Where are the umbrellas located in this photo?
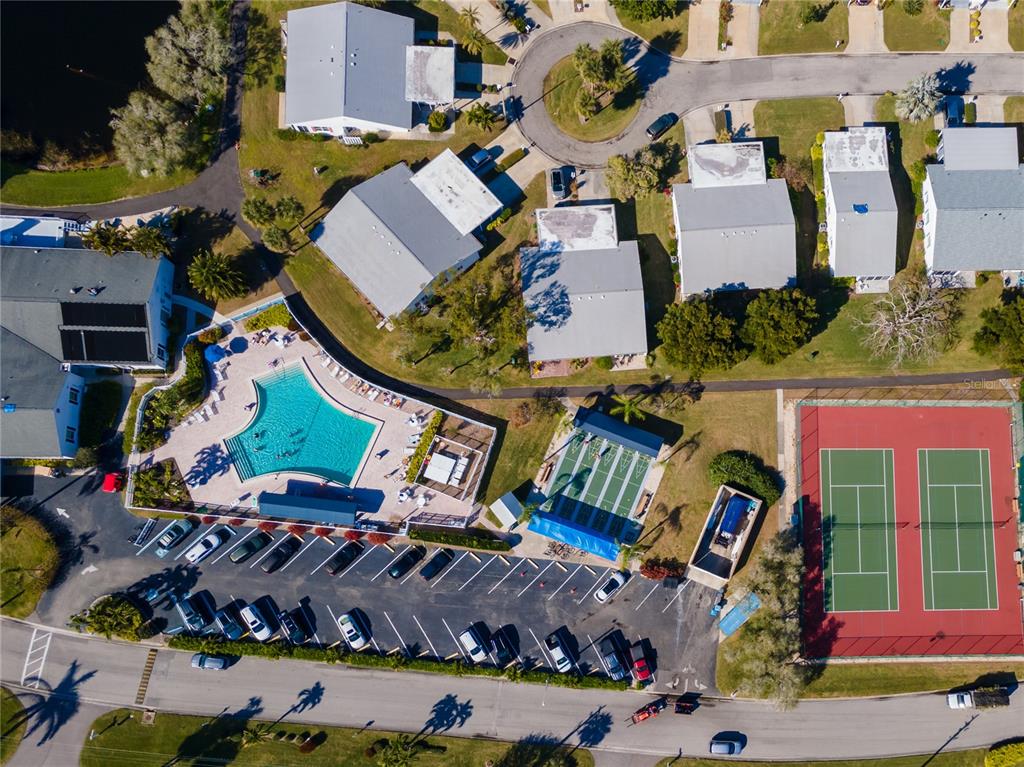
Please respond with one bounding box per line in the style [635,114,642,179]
[230,336,249,354]
[222,323,234,333]
[205,345,226,365]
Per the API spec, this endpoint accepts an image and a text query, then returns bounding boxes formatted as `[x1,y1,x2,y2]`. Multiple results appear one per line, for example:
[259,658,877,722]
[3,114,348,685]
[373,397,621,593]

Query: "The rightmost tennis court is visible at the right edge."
[917,421,999,640]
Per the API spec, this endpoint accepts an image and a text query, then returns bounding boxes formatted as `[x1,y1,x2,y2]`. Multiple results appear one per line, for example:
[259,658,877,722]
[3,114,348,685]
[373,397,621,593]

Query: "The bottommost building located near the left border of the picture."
[0,245,171,456]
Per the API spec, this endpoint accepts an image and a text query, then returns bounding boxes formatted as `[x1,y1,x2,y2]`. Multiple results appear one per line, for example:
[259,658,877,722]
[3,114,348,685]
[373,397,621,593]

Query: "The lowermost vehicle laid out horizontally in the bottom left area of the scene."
[191,653,228,670]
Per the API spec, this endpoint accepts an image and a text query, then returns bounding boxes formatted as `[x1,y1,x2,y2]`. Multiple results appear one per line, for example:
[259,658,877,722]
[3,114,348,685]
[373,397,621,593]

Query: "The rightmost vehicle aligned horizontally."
[950,688,1016,714]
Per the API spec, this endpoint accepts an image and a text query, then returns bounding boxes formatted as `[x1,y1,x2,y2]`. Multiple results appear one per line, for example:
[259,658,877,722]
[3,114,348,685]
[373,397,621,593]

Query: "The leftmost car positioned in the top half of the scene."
[464,148,491,173]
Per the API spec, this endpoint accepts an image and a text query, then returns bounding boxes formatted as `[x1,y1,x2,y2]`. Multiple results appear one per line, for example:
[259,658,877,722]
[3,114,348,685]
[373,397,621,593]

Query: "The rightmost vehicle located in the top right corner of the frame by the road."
[946,95,963,128]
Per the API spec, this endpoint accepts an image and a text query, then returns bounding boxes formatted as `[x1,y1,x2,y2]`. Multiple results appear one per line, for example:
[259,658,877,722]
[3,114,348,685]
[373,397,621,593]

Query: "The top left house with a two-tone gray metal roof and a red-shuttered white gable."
[286,0,455,137]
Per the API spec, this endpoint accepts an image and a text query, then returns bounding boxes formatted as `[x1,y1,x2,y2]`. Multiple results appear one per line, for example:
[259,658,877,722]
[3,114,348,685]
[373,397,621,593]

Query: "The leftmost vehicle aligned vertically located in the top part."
[551,170,565,200]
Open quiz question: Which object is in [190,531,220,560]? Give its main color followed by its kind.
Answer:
white car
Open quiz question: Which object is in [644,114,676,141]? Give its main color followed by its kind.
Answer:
black car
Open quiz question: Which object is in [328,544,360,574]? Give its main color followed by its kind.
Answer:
black car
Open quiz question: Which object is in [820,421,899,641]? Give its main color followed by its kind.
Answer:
green tennis court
